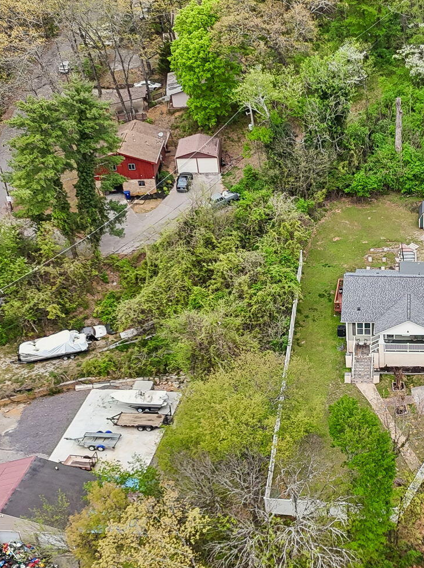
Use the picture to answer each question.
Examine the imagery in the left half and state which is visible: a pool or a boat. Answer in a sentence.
Looking in the left half, you will find a boat.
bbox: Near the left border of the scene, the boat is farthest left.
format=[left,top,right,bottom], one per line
[16,329,95,362]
